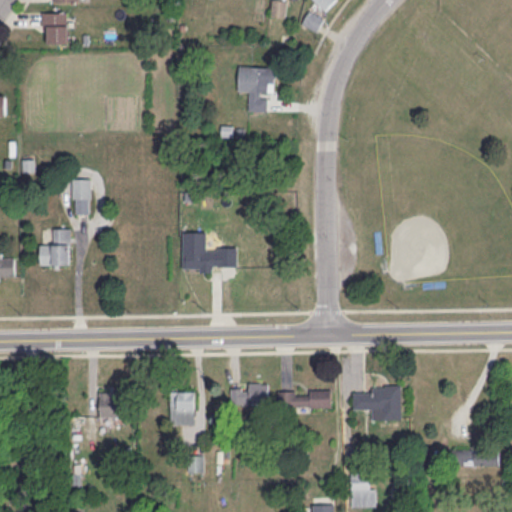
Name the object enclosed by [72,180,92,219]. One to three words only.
house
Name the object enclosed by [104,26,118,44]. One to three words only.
swimming pool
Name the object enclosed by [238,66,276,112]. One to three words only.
house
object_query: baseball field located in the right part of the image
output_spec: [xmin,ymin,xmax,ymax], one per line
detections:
[391,215,450,282]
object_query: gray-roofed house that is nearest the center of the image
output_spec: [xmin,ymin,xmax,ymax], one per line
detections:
[182,232,240,274]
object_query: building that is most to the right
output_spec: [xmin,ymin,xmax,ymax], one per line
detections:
[456,451,502,468]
